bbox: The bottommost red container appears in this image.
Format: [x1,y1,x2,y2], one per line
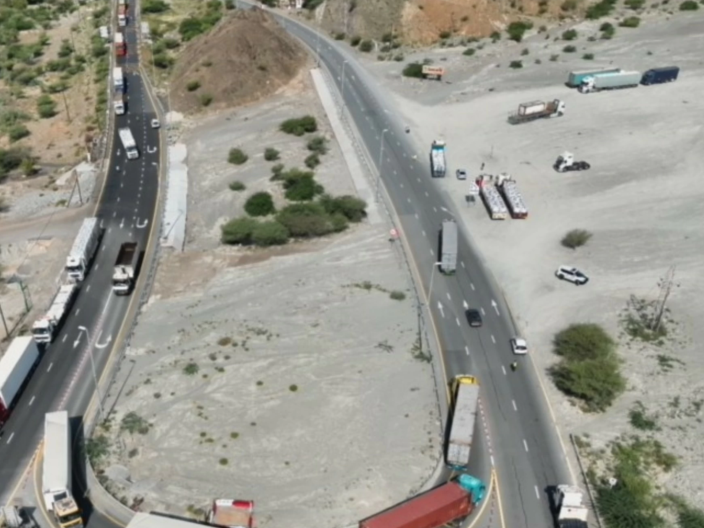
[361,481,469,528]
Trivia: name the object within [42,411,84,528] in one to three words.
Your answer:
truck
